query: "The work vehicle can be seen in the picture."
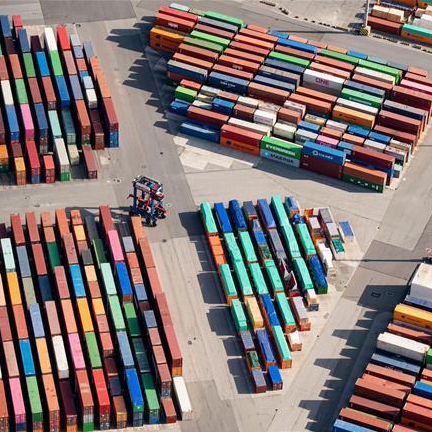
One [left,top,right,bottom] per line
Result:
[133,170,169,227]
